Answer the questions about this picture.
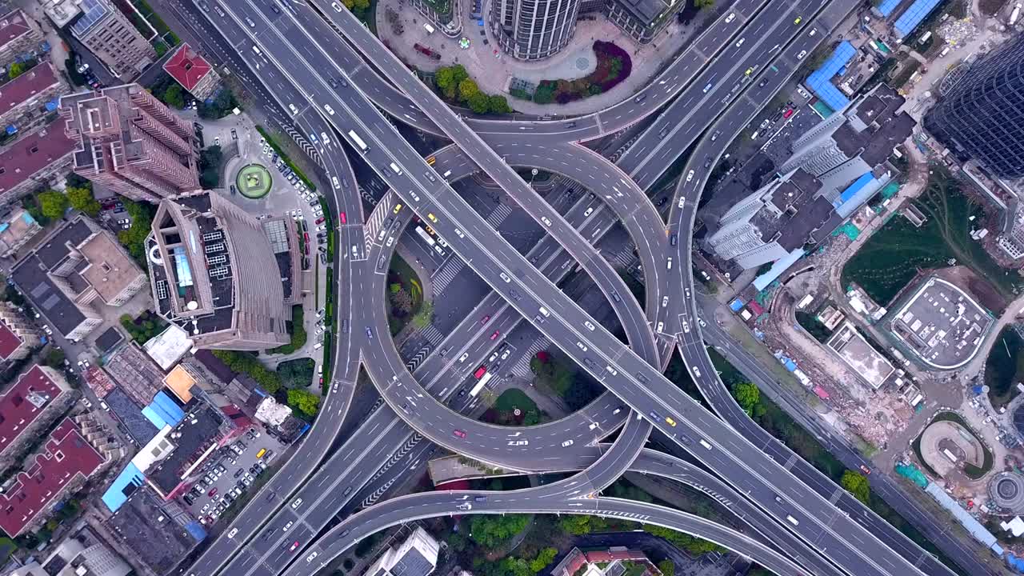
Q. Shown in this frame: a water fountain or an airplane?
water fountain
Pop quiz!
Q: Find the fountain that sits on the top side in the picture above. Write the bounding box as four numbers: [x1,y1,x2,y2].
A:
[235,162,273,199]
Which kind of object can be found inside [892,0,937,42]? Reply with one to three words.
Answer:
shed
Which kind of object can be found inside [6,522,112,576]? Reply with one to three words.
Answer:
building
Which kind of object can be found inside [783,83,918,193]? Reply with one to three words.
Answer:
building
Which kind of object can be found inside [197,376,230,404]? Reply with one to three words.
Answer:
house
